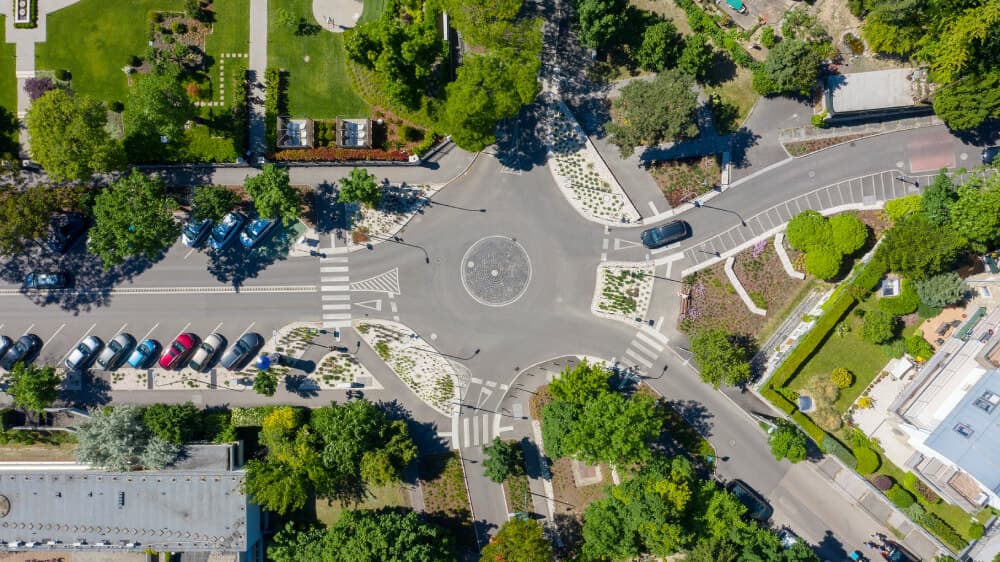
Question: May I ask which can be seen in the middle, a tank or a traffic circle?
traffic circle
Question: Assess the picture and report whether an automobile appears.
Yes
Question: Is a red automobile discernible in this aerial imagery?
Yes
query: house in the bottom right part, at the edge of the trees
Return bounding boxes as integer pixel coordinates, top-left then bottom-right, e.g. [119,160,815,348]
[886,305,1000,522]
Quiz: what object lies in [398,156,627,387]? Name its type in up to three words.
roundabout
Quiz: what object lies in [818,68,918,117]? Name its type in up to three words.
building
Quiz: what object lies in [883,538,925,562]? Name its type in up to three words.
car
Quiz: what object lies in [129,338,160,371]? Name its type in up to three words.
car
